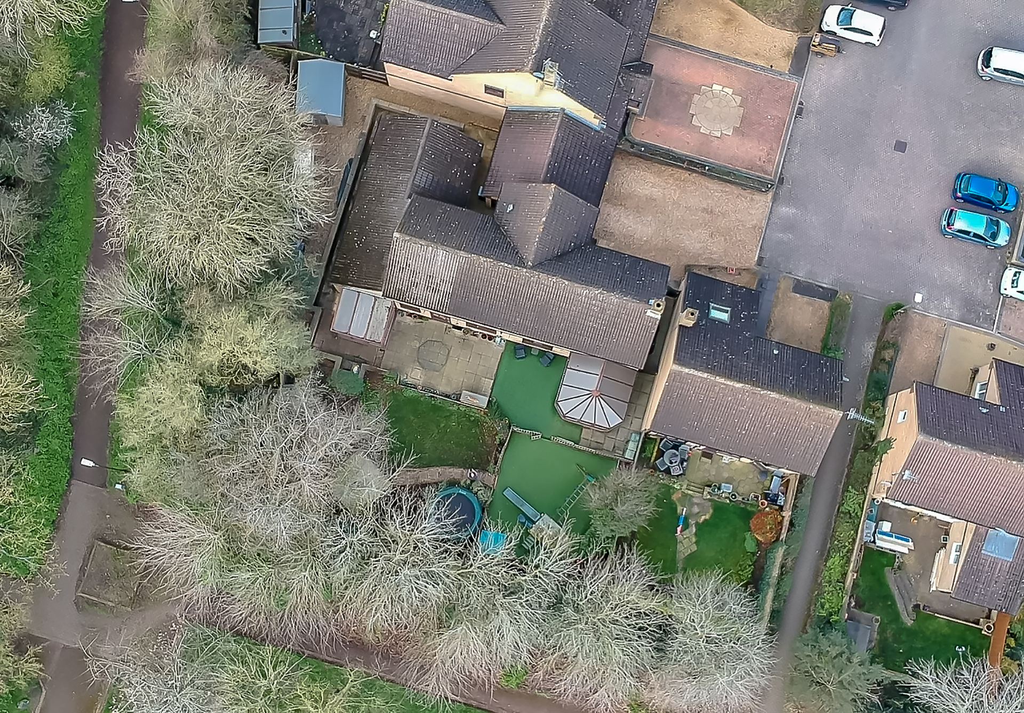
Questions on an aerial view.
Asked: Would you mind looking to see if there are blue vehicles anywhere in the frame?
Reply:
Yes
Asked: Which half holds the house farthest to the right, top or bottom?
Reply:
bottom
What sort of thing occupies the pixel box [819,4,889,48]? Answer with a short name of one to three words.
car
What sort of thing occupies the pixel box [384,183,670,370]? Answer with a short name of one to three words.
house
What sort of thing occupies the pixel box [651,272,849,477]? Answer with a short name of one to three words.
house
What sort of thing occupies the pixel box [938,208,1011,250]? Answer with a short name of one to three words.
car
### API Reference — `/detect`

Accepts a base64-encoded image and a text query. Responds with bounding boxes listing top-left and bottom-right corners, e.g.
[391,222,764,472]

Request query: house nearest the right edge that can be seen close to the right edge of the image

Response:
[872,355,1024,611]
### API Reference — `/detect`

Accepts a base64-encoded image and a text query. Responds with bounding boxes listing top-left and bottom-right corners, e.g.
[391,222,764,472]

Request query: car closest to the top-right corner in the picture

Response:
[970,45,1024,89]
